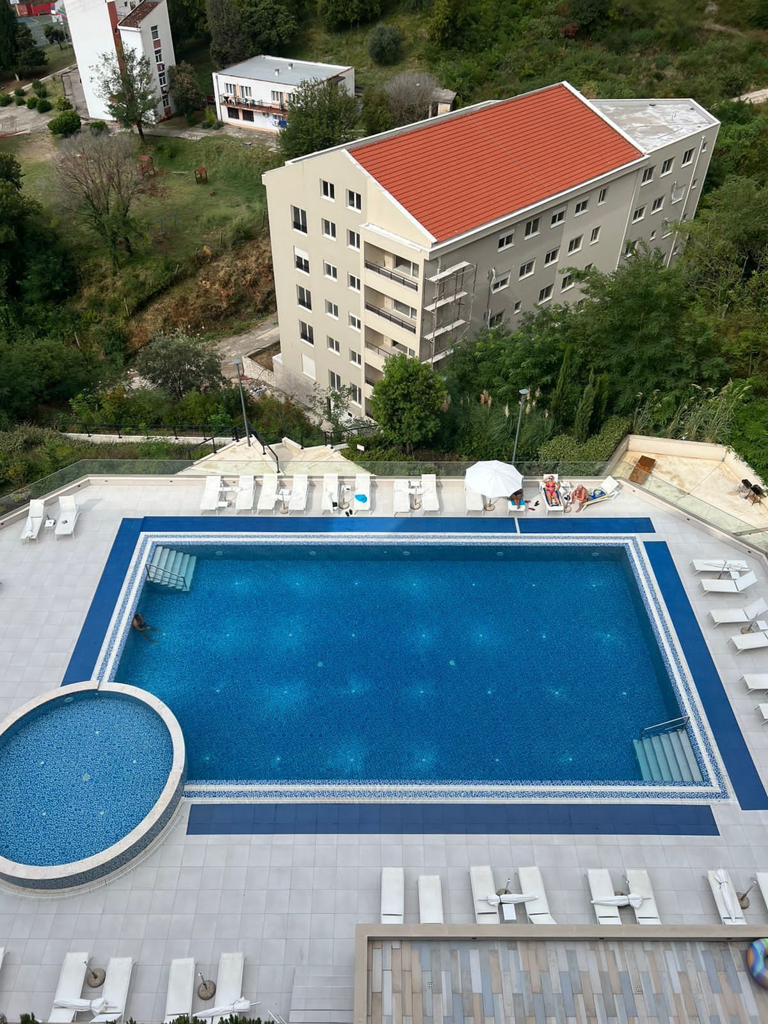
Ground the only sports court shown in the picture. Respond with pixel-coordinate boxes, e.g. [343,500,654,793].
[13,13,71,47]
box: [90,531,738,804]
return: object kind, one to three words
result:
swimming pool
